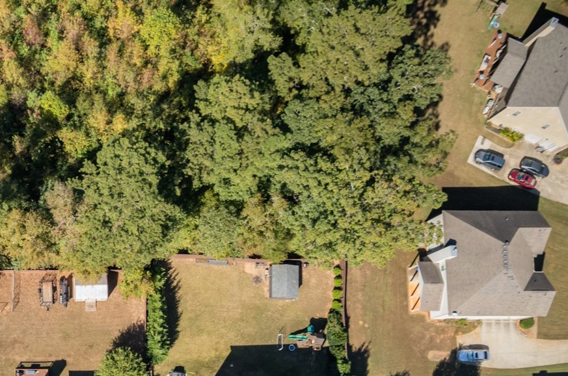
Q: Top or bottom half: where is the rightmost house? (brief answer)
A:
top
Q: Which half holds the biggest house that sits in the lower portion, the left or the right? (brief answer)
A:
right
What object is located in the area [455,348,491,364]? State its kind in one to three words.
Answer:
car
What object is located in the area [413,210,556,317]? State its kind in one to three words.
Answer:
house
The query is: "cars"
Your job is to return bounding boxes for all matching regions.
[517,158,551,178]
[455,348,491,364]
[472,149,507,171]
[506,170,538,189]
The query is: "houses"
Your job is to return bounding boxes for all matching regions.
[486,13,568,134]
[413,210,556,317]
